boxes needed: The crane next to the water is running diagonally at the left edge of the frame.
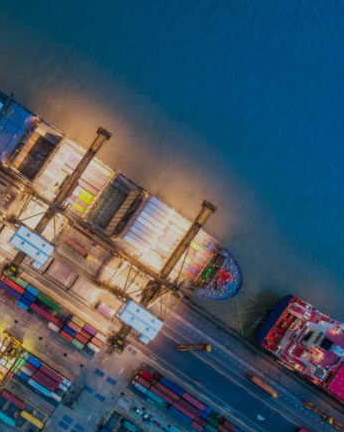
[1,126,110,273]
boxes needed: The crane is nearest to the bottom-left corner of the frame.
[0,328,29,388]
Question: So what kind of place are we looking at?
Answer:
port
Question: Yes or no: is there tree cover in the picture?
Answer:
No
